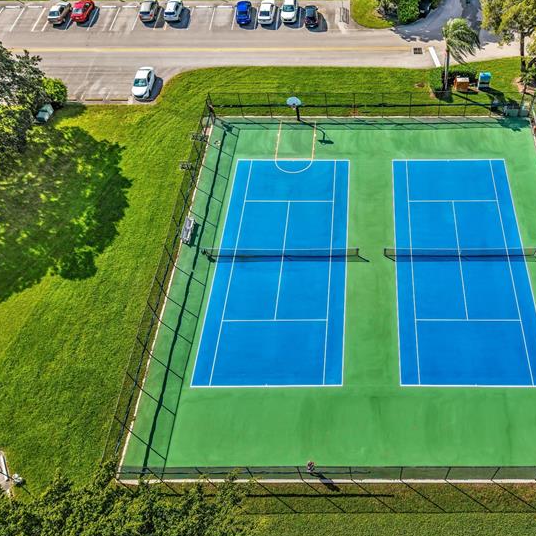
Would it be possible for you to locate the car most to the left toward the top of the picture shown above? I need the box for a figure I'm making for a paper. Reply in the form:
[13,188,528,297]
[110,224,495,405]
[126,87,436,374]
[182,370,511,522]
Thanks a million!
[47,0,75,23]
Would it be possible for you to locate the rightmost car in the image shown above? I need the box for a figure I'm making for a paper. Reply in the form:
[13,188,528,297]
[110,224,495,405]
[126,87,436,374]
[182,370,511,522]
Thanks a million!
[303,2,320,23]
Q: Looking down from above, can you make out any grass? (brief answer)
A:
Yes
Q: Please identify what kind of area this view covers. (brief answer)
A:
sports ground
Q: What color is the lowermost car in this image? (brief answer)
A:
white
